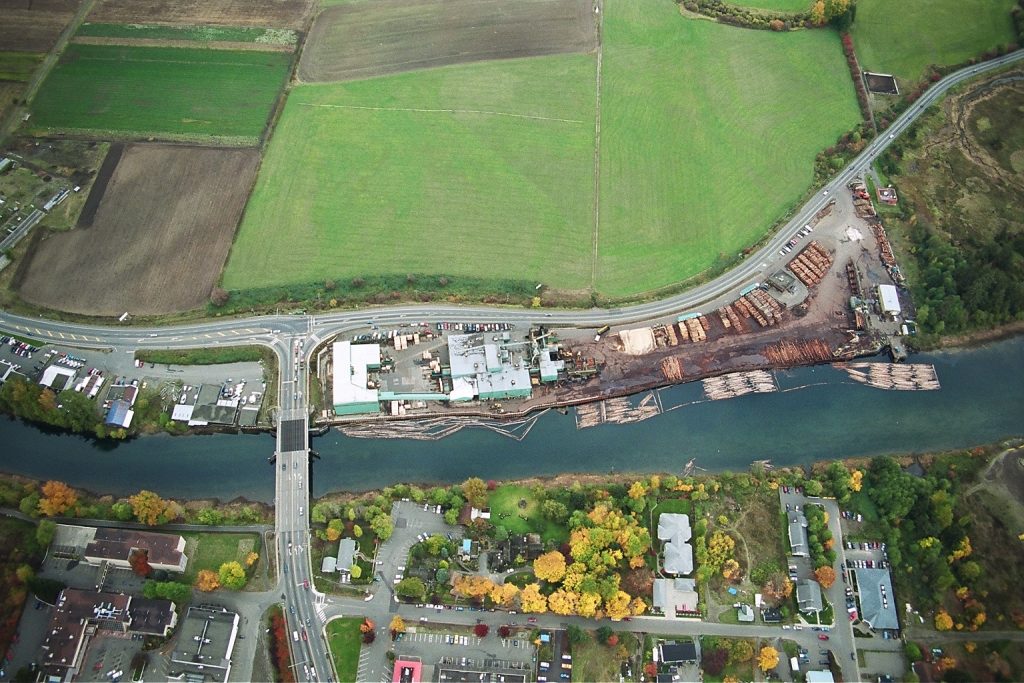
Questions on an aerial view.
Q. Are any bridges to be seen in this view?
Yes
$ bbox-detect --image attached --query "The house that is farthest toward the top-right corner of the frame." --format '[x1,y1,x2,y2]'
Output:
[877,187,896,207]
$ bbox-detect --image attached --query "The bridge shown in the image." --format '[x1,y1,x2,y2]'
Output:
[268,406,330,531]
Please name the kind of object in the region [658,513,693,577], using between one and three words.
house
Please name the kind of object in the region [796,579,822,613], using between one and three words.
house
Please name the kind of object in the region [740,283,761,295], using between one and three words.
vehicle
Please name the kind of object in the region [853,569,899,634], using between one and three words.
building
